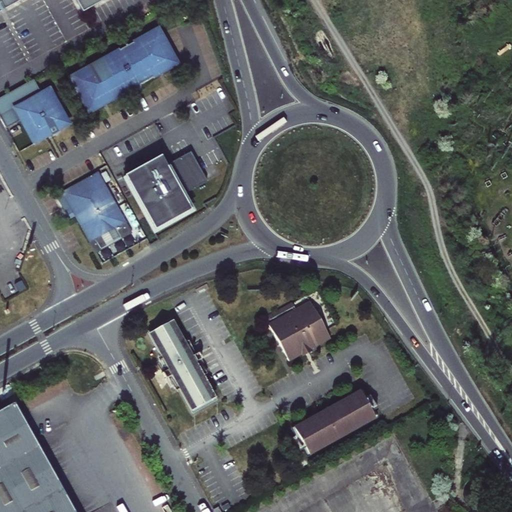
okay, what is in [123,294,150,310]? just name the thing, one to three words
vehicle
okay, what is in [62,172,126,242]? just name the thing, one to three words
building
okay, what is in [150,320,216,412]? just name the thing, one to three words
building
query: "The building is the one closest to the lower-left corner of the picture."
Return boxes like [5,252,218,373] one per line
[0,402,77,512]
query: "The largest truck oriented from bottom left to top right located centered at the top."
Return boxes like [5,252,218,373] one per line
[252,118,286,143]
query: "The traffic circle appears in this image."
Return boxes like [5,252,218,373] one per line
[232,102,398,267]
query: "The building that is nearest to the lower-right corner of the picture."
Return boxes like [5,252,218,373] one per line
[293,389,378,456]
